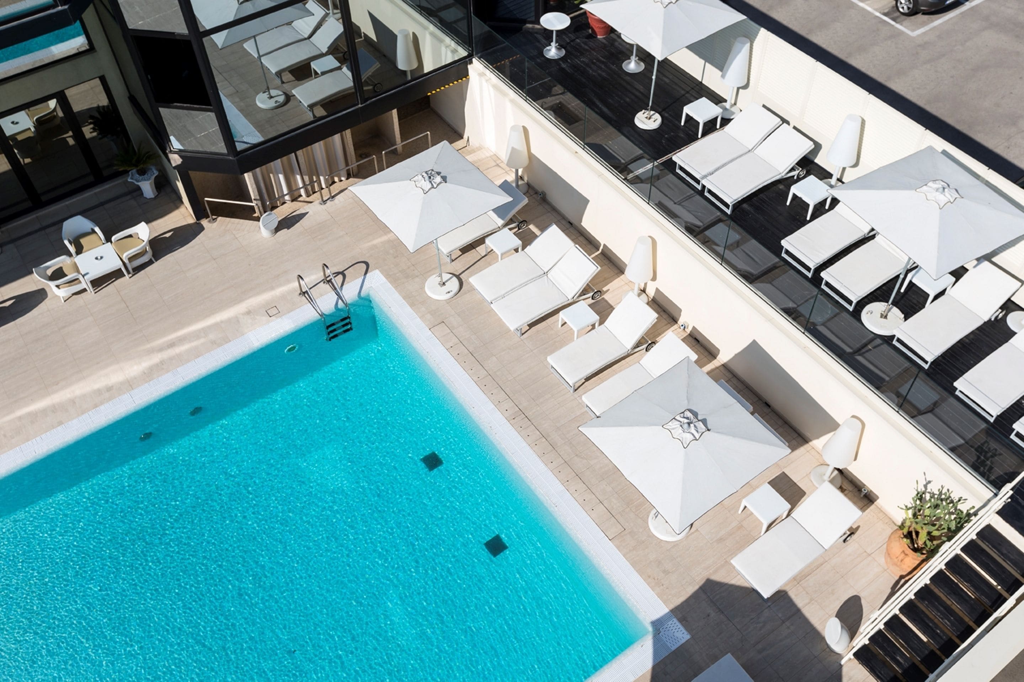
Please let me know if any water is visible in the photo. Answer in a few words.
Yes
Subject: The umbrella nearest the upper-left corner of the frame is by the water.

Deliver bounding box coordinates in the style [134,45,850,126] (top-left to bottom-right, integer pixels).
[348,140,517,299]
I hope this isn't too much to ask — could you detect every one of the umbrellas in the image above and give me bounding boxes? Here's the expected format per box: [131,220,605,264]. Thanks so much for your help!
[579,0,748,129]
[827,143,1024,332]
[581,359,795,541]
[348,140,517,299]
